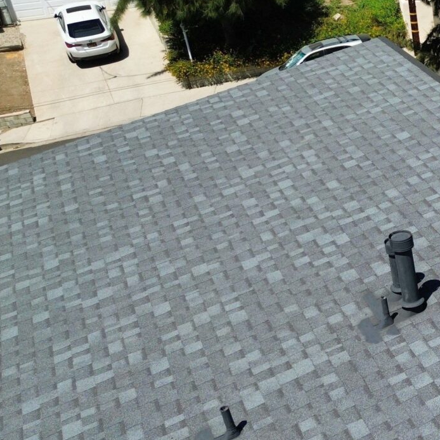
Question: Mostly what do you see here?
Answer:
buildings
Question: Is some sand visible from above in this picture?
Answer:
No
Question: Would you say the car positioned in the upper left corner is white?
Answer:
Yes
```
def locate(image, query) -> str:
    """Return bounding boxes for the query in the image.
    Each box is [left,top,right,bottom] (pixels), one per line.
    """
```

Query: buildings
[0,36,440,440]
[0,0,146,25]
